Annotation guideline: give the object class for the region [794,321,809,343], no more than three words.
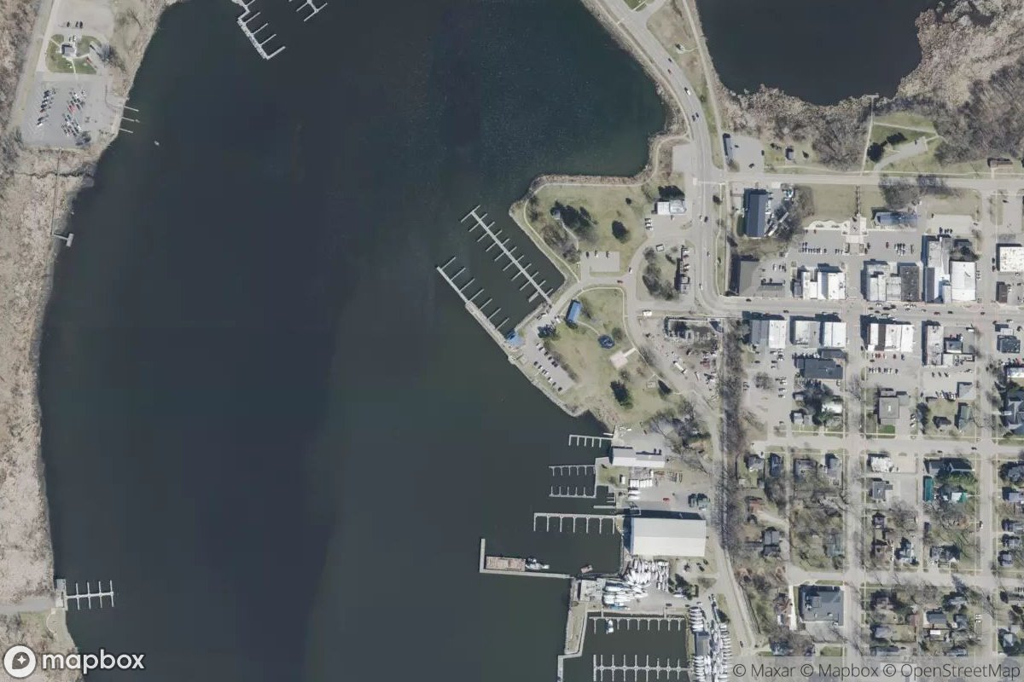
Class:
building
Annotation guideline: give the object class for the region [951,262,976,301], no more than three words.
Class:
building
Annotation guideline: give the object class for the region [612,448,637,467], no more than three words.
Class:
shed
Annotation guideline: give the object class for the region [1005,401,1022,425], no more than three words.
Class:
house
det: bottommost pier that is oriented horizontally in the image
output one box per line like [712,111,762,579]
[593,655,688,681]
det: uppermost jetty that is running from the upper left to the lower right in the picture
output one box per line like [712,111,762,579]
[238,0,285,59]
